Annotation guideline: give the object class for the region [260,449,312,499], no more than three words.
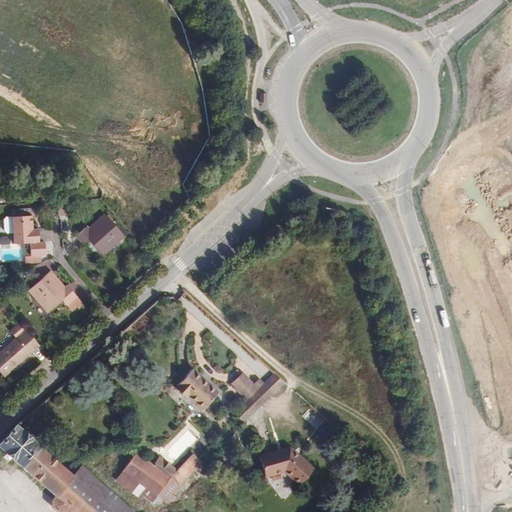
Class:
house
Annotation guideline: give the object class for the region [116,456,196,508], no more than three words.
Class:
shed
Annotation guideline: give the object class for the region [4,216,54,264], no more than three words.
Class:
house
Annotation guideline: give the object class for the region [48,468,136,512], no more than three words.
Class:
barn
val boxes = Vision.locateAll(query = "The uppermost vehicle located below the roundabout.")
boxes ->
[421,252,438,286]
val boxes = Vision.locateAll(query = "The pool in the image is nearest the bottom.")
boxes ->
[154,424,200,464]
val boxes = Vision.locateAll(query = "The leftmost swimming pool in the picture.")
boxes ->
[0,244,24,264]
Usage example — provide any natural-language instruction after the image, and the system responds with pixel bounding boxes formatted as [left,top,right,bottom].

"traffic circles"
[270,21,440,184]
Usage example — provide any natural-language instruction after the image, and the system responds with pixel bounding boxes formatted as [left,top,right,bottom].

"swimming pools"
[0,244,24,264]
[154,424,200,464]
